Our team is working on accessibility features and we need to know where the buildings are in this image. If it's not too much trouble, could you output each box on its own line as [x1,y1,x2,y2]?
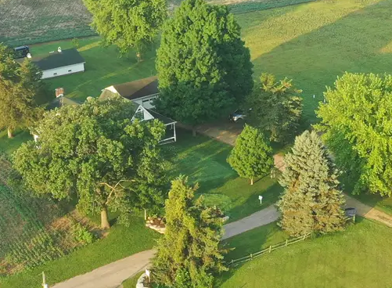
[99,72,177,142]
[9,45,86,80]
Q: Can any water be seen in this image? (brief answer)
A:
No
